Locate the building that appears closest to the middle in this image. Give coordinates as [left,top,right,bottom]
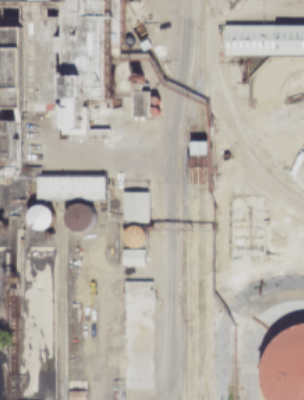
[123,192,152,223]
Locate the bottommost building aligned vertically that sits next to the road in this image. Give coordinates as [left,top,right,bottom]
[126,282,157,390]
